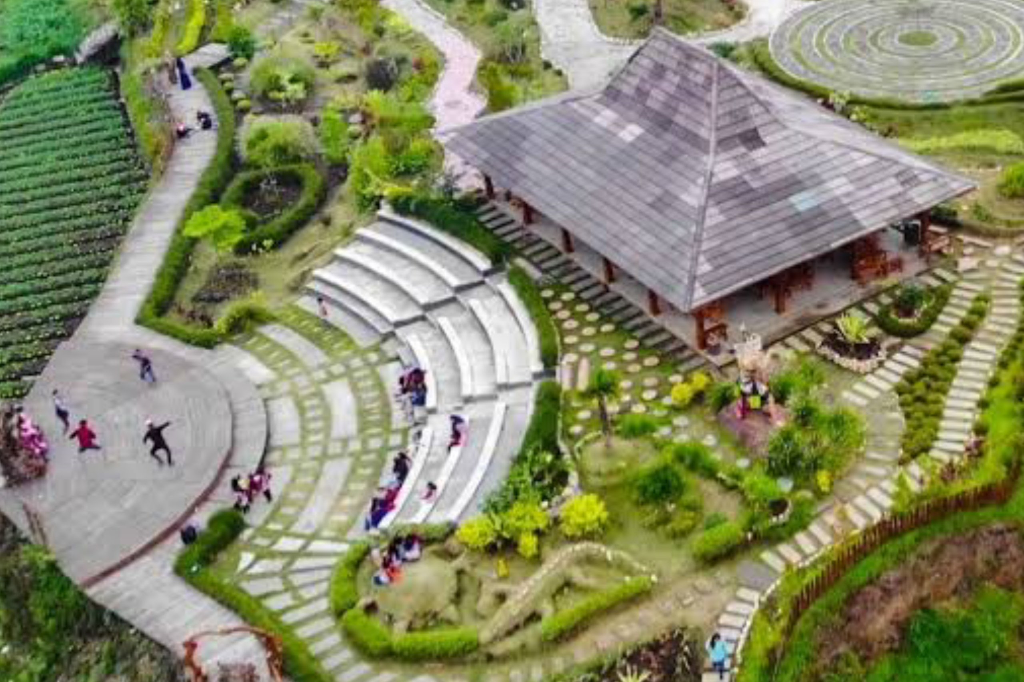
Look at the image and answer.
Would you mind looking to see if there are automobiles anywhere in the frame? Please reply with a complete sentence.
No, this view has no automobile in it.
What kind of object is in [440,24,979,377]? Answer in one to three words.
building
